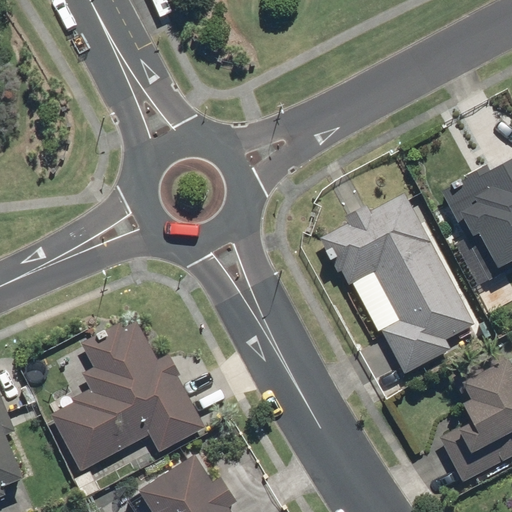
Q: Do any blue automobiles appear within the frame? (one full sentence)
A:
No, I can't see a single blue automobile in this photo.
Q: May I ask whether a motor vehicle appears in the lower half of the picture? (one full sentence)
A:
Yes, looking in the lower half of the picture, one can make out a motor vehicle.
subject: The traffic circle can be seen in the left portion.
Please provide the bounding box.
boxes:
[159,156,226,224]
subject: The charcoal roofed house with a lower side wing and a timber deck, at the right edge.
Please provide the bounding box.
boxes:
[444,158,512,285]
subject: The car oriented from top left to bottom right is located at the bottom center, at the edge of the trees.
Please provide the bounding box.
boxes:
[258,388,288,421]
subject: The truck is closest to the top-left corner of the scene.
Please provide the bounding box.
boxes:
[50,0,78,29]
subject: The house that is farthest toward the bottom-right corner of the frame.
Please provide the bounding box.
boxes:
[442,359,512,483]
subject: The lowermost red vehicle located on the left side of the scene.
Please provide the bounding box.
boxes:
[165,221,200,238]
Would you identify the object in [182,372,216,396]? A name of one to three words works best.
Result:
car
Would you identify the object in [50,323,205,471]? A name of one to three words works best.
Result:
house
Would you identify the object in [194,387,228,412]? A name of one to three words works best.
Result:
vehicle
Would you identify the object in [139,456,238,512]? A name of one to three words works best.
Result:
house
